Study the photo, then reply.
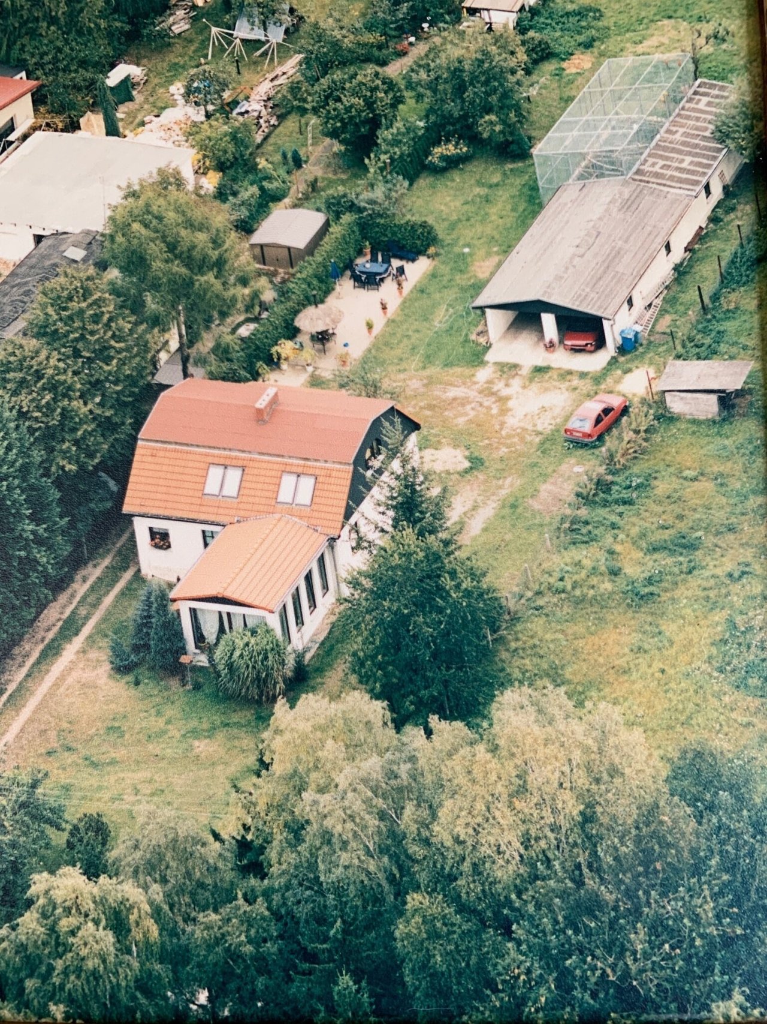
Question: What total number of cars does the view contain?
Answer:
2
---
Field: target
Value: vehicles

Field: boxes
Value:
[566,392,630,446]
[570,321,607,351]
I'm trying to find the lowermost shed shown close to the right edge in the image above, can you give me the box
[658,361,753,418]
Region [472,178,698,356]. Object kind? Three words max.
building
